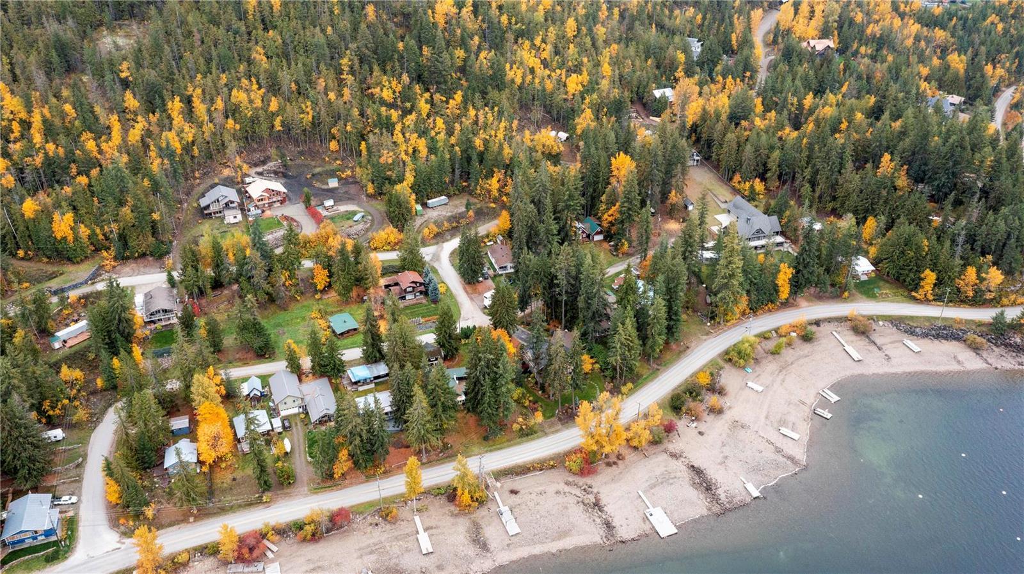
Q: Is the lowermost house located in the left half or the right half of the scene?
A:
left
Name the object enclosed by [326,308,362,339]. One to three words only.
building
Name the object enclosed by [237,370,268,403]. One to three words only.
building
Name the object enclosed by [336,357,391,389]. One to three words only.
house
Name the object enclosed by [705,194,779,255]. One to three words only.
house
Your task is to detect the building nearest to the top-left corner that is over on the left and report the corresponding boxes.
[196,176,242,222]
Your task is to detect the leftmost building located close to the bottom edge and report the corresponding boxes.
[0,486,66,561]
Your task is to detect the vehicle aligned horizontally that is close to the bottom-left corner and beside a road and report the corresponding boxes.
[54,493,78,506]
